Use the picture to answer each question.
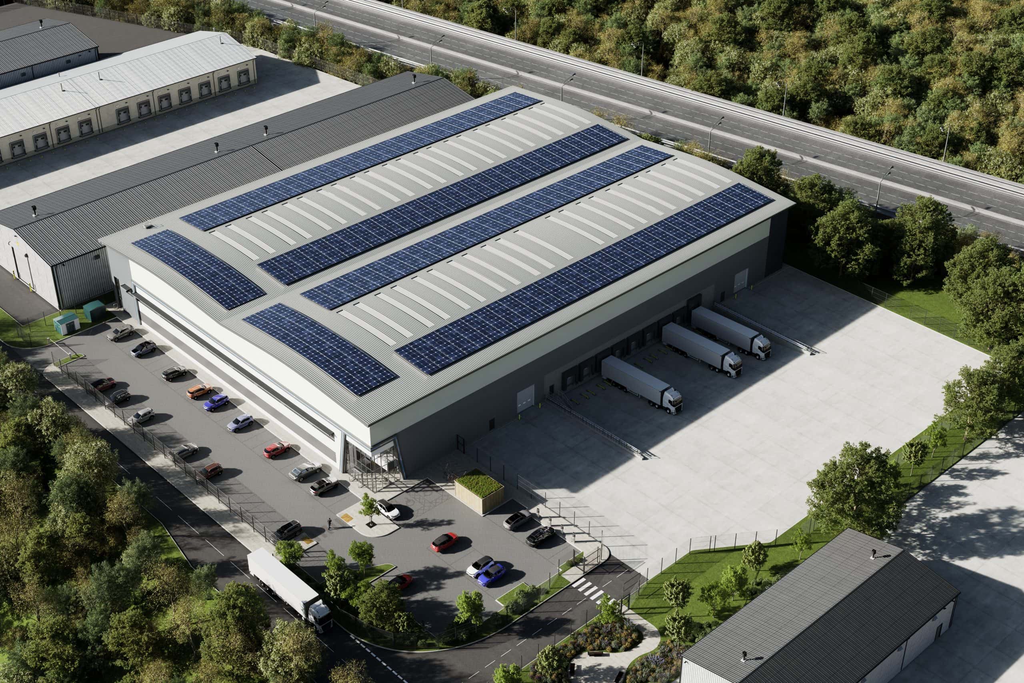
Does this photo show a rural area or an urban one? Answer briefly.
urban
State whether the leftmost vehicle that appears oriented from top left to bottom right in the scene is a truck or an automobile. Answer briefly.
truck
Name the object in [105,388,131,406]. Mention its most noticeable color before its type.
black car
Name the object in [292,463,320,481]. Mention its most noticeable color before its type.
gray car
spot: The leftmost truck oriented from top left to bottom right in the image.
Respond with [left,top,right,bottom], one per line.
[247,547,334,633]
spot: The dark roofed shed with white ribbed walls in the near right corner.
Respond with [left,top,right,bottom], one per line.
[679,527,963,683]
